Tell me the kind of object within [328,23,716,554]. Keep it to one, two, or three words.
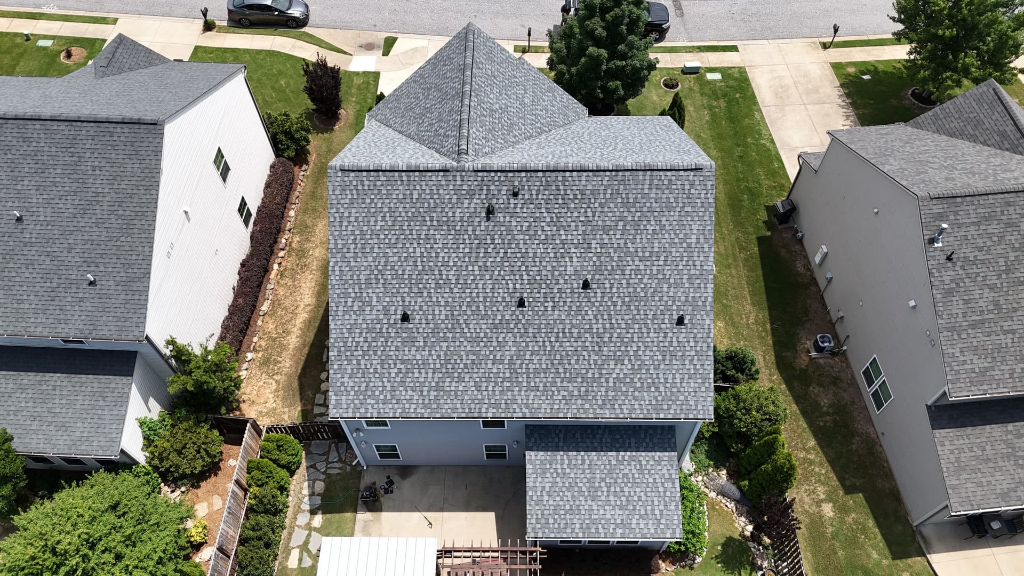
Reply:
house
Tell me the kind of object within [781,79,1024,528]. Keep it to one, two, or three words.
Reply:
house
